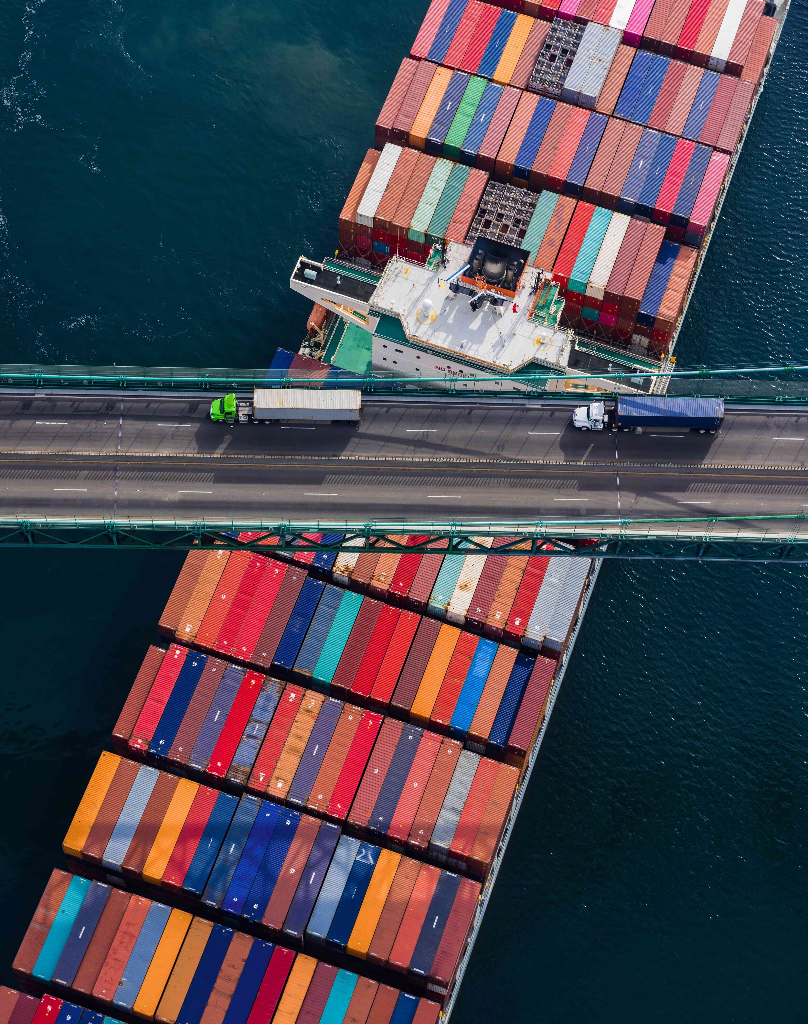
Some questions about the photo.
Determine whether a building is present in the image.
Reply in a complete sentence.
No, no building is visible in the scene.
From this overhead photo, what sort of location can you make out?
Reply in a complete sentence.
This image shows a port.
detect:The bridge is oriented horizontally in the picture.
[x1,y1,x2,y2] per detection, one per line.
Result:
[0,360,808,563]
